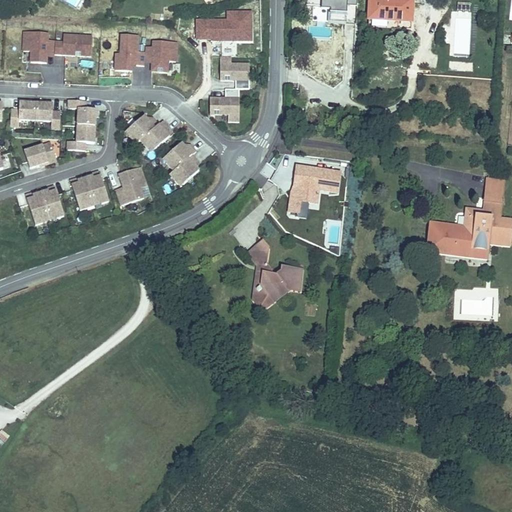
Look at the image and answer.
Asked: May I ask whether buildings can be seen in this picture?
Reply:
Yes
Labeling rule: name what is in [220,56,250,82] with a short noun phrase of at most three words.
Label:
house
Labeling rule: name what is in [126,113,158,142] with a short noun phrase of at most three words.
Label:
house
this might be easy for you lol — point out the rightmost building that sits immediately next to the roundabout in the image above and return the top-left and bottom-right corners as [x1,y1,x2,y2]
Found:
[288,163,340,218]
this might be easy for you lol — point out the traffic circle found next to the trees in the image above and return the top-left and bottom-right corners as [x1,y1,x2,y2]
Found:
[212,130,276,203]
